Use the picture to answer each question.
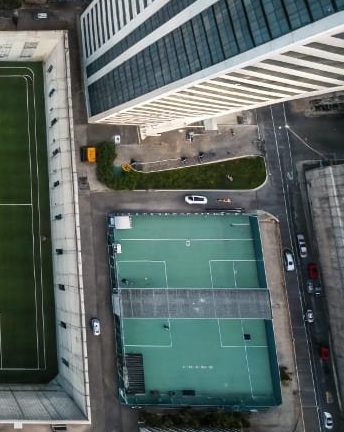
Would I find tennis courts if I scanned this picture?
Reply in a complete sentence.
Yes, this view includes a tennis court.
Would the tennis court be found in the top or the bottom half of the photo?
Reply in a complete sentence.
Seen from above, the tennis court lies in the bottom half of the view.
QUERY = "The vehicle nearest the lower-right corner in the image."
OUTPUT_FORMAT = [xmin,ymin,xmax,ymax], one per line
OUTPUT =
[322,411,335,430]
